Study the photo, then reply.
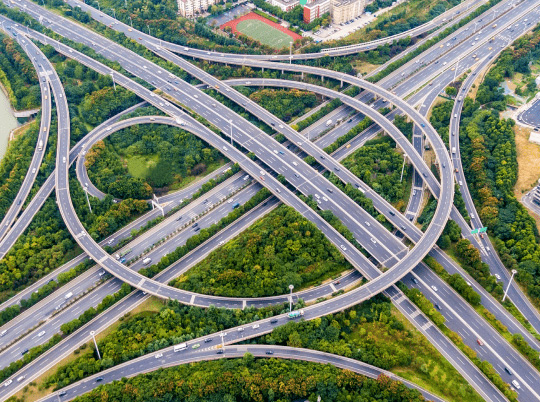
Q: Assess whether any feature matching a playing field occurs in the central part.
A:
No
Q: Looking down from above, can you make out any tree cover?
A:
Yes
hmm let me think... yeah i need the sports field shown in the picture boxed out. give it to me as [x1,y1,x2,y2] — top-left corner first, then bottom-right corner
[230,11,304,50]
